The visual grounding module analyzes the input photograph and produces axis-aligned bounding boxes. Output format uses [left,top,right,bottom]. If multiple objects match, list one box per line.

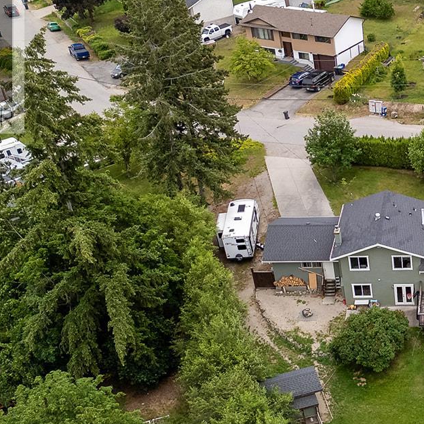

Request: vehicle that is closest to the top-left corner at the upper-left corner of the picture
[1,3,17,16]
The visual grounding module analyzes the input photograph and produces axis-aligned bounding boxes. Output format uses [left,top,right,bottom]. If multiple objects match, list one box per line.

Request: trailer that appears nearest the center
[217,201,266,260]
